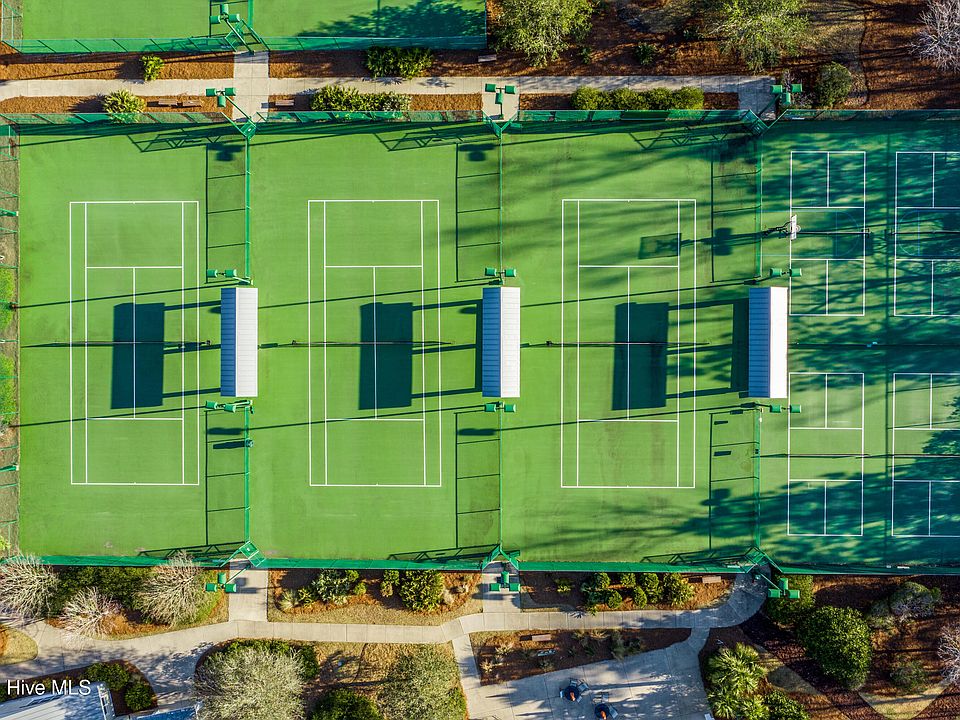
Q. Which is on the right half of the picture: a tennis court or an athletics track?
tennis court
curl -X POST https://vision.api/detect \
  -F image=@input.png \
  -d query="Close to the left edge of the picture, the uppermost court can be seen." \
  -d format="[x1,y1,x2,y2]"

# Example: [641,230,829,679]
[22,0,248,54]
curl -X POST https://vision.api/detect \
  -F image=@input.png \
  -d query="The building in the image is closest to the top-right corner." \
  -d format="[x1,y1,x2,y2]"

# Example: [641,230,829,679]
[749,285,789,398]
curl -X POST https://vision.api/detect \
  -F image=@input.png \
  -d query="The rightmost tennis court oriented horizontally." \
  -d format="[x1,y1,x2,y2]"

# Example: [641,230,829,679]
[248,0,485,52]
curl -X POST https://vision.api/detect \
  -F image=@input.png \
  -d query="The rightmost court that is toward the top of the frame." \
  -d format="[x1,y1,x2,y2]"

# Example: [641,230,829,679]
[895,151,960,316]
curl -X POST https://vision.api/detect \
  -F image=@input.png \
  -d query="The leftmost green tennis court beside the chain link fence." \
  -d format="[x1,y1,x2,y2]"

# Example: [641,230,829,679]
[19,124,249,557]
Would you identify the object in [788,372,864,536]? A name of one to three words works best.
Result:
sports court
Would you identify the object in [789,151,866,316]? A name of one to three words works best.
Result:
sports court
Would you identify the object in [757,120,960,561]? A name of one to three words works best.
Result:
basketball court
